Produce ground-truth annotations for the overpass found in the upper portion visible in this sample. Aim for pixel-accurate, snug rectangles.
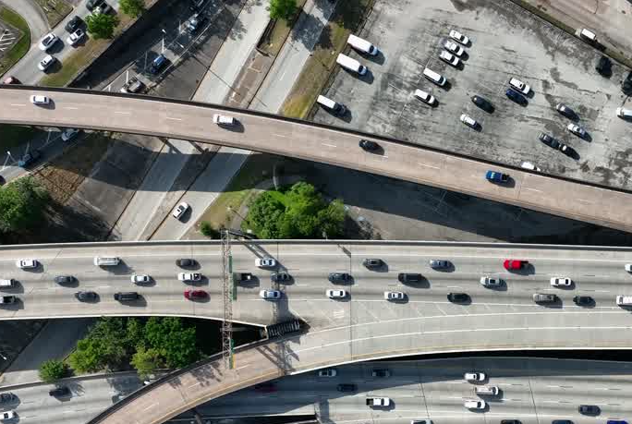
[0,83,632,232]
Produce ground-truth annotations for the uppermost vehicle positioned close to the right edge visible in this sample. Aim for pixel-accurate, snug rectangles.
[578,23,603,47]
